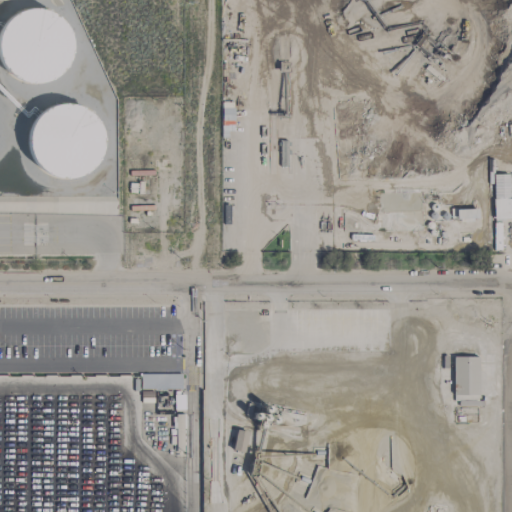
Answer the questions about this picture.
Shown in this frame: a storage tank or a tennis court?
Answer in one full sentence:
I can see a storage tank in this picture.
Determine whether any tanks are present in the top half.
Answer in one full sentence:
Yes, a tank shows up in the top half.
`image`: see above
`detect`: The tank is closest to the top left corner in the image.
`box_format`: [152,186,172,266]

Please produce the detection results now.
[0,8,76,86]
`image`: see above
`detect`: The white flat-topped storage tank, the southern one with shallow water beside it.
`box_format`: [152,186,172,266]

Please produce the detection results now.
[28,104,107,182]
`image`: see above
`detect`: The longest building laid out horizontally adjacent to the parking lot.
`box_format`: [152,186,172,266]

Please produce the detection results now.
[142,374,184,389]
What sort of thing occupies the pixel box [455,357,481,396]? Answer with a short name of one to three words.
building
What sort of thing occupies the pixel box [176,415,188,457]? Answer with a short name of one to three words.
shed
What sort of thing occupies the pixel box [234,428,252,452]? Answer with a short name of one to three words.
shed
